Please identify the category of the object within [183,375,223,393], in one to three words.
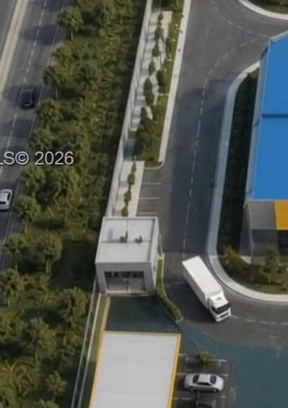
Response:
car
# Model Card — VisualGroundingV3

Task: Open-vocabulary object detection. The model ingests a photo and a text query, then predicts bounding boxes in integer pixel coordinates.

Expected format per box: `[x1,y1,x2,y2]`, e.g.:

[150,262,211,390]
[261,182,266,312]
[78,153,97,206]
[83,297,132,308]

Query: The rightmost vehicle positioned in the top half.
[18,89,36,111]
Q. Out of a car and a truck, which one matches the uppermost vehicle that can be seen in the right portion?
truck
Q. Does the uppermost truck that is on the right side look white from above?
Yes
